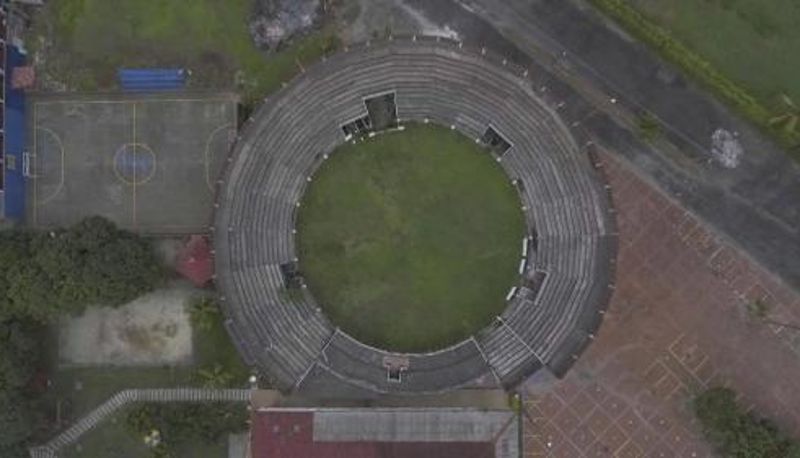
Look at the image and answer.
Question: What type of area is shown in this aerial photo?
sports ground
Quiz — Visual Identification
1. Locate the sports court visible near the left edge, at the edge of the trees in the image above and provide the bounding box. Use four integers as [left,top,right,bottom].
[24,95,239,238]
